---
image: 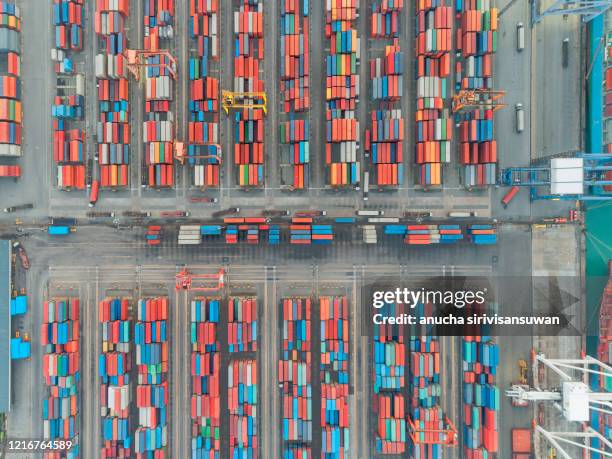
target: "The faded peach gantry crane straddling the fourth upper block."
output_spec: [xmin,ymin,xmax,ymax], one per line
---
[123,49,178,78]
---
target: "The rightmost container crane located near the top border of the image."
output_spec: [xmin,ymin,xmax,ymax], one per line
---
[531,0,607,26]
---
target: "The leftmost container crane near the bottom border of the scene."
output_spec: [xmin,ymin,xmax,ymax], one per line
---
[407,415,458,446]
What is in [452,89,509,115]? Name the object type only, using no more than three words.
container crane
